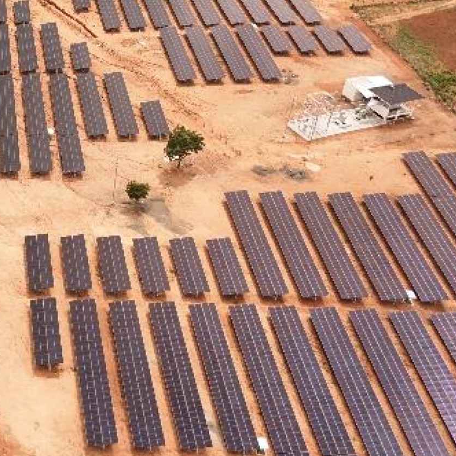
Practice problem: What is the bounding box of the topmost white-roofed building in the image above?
[343,72,396,108]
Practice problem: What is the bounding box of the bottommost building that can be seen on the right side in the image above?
[362,98,398,124]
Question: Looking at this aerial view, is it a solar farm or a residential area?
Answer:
solar farm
